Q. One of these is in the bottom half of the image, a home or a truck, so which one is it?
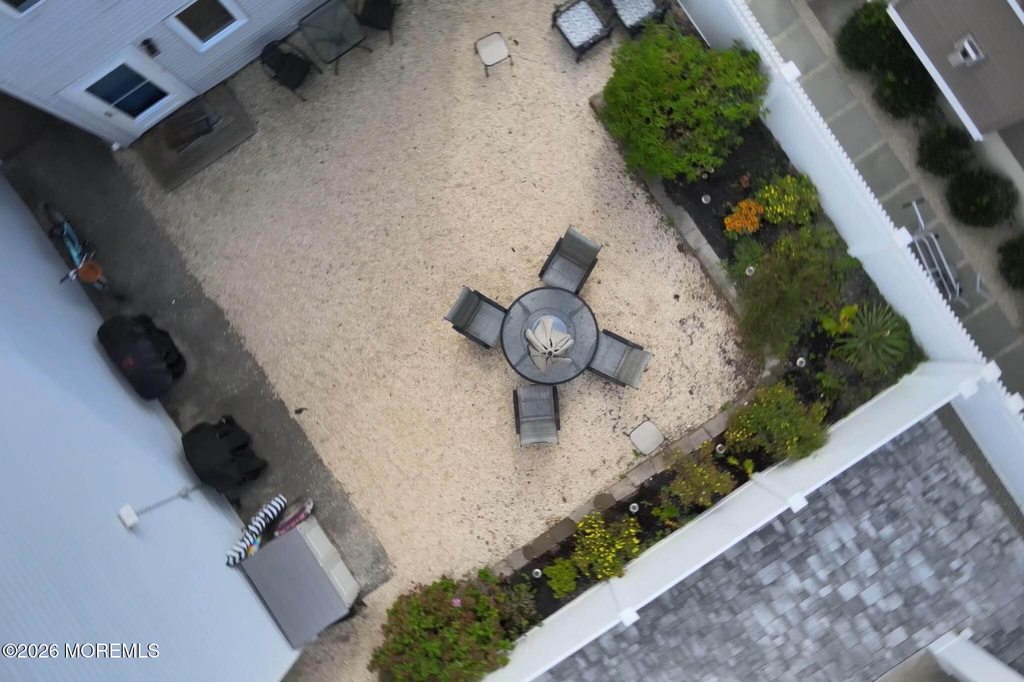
home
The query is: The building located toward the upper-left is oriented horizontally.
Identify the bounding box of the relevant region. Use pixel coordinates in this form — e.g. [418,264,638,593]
[0,0,330,151]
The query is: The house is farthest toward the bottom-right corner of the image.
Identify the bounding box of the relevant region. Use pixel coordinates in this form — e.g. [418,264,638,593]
[875,618,1019,682]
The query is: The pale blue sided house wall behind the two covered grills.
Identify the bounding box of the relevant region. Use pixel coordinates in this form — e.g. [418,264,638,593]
[0,174,299,682]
